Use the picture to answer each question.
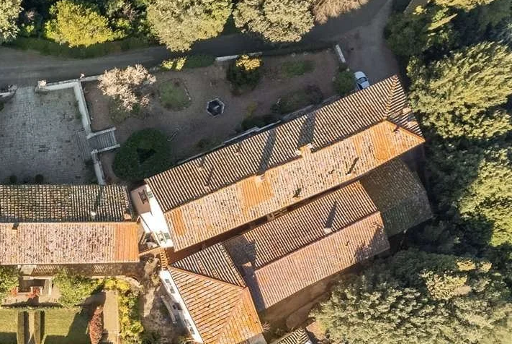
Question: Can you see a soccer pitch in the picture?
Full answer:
No, there appears to be no soccer pitch in this shot.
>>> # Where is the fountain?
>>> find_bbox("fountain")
[206,98,224,116]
